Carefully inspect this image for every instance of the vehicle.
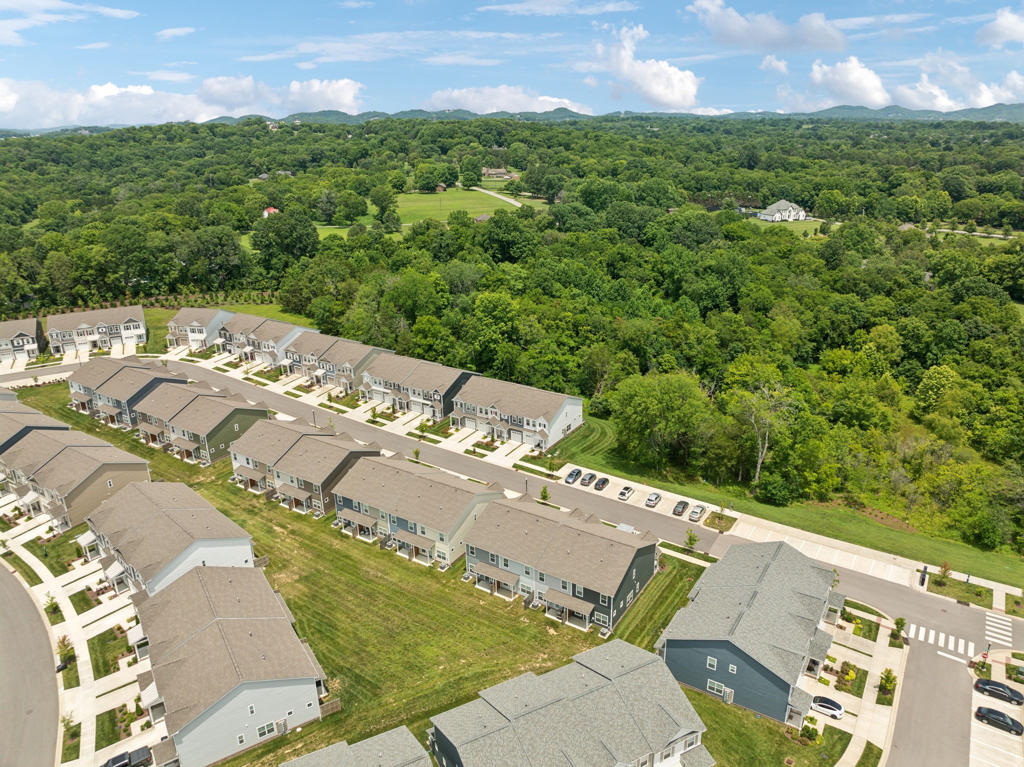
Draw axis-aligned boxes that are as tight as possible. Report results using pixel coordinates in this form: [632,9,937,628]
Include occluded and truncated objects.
[672,502,690,517]
[92,741,154,767]
[809,695,852,722]
[687,506,704,521]
[973,705,1024,735]
[617,487,635,501]
[645,495,662,508]
[591,480,608,493]
[566,472,585,486]
[974,677,1023,705]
